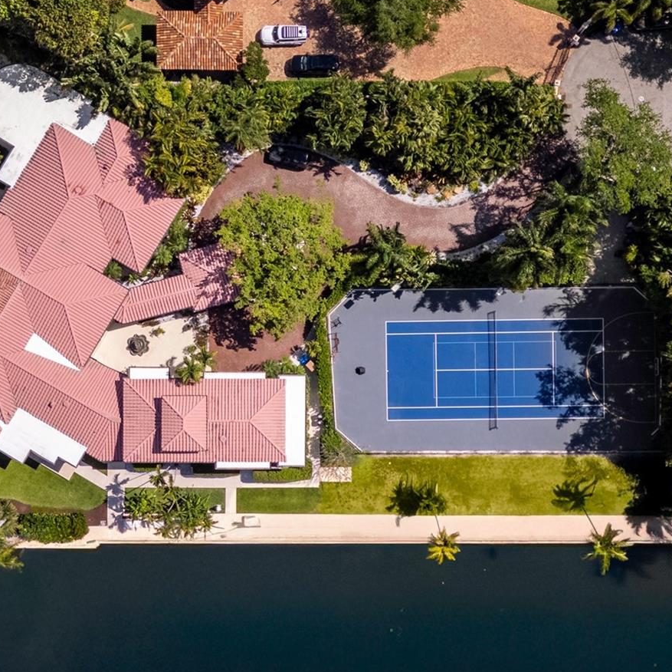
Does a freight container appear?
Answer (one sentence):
No, there's no freight container here.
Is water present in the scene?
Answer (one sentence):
Yes, water can be seen from above here.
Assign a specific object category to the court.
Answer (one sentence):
Specifically, the court is a tennis court.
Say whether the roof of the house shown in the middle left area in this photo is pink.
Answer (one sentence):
Yes, the roof of the house shown in the middle left area is indeed pink.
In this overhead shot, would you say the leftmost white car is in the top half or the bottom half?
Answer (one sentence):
The leftmost white car sits in the top half of the picture.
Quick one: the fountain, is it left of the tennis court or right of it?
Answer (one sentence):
The fountain appears to the left of the tennis court in this view.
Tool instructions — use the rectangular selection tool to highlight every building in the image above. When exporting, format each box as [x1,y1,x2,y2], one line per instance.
[0,65,305,470]
[155,0,244,78]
